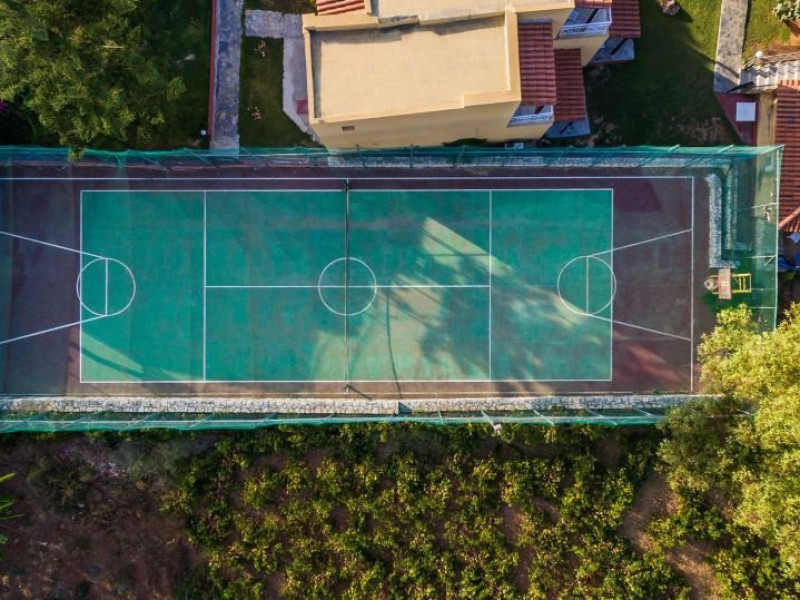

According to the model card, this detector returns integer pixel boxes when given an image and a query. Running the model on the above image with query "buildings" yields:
[752,66,800,241]
[304,9,591,162]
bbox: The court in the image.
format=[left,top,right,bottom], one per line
[0,168,737,398]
